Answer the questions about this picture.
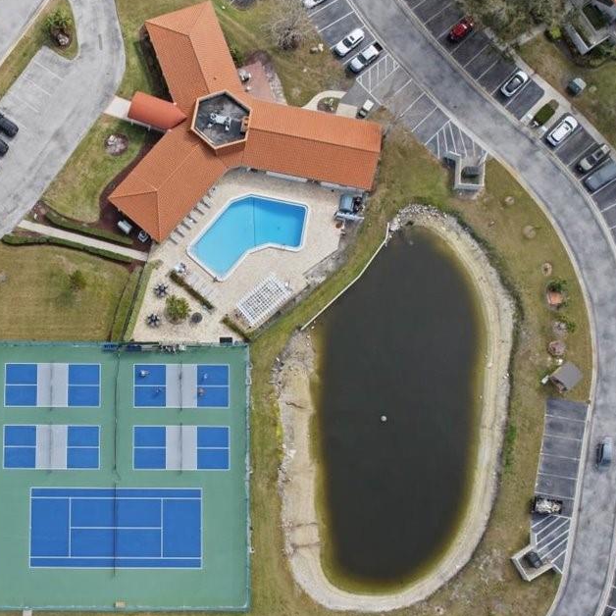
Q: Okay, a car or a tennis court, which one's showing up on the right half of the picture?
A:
car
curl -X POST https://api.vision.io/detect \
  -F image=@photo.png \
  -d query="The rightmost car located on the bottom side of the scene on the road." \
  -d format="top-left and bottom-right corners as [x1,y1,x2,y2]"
[598,437,616,470]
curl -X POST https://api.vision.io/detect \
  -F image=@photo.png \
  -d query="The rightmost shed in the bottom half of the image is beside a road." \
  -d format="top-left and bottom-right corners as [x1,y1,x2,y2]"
[553,360,590,395]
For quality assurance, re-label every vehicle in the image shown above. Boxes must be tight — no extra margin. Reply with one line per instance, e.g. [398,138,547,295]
[448,18,475,43]
[0,110,21,137]
[0,138,10,155]
[334,24,369,55]
[501,68,532,98]
[598,437,616,470]
[548,114,583,145]
[351,39,386,71]
[587,159,616,188]
[579,143,614,170]
[301,0,323,9]
[360,95,377,116]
